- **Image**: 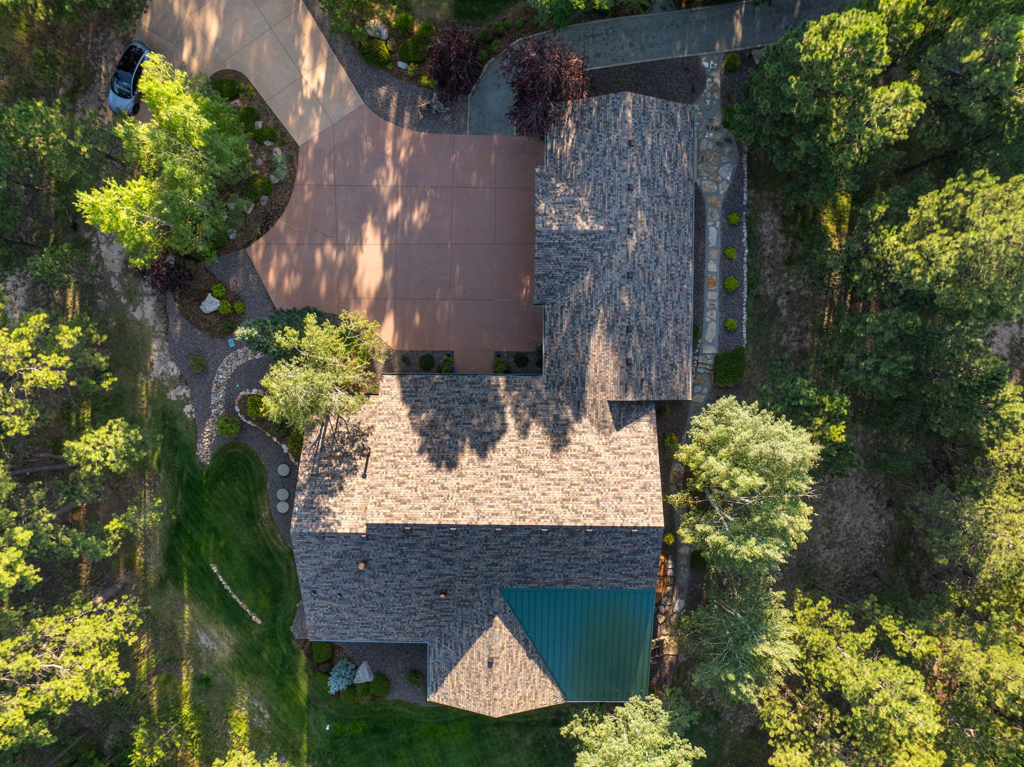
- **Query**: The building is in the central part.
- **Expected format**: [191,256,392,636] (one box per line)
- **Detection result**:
[290,91,695,718]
